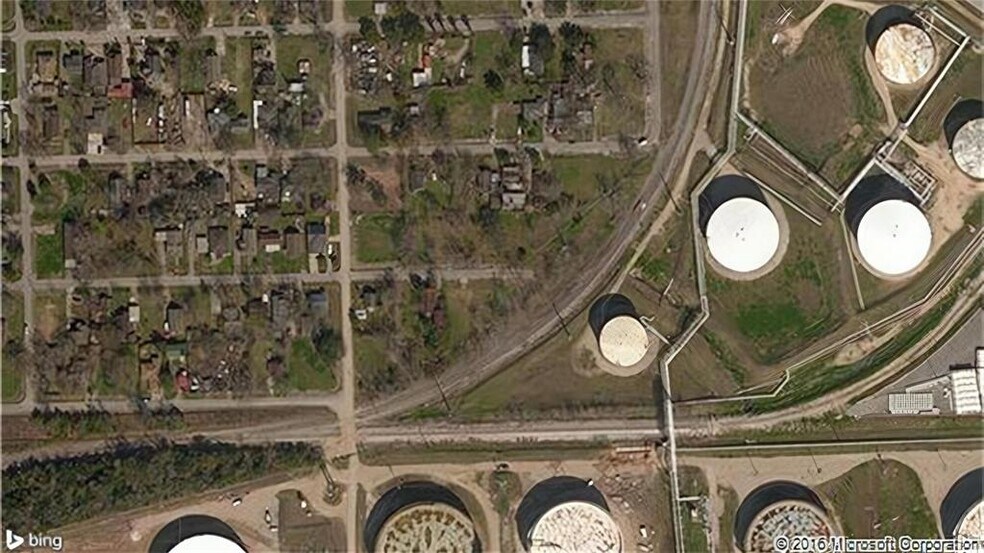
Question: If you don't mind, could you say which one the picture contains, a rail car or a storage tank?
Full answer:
It is a storage tank that can be seen here.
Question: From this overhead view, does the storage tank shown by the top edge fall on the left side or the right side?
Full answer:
It is on the right.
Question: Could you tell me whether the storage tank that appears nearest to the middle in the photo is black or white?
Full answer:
In this view, the storage tank that appears nearest to the middle is white.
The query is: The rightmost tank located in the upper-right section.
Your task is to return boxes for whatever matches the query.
[951,117,984,181]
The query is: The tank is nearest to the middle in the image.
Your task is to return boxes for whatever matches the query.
[599,314,650,366]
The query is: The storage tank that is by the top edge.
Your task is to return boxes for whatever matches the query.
[874,22,937,84]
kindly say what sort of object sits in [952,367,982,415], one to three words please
building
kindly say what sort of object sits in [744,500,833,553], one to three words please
storage tank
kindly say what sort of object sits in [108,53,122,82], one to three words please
house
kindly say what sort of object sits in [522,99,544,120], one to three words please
house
